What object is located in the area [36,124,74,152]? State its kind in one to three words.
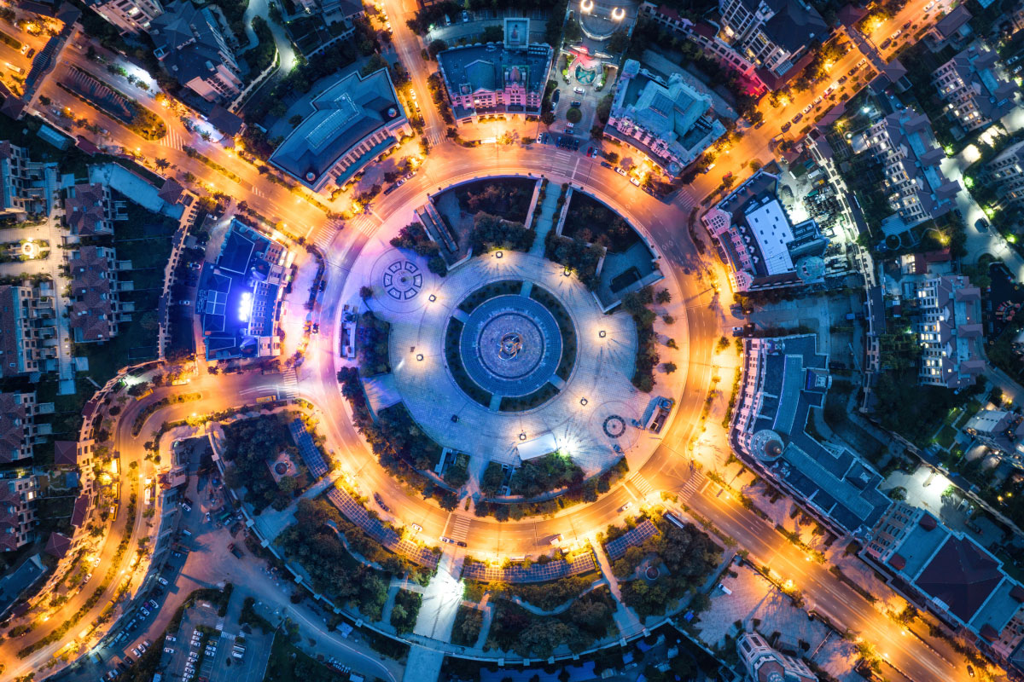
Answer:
greenhouse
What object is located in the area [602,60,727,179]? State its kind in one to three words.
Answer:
building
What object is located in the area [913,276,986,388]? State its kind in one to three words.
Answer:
building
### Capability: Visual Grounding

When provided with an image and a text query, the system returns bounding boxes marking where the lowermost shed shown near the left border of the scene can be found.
[0,554,54,620]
